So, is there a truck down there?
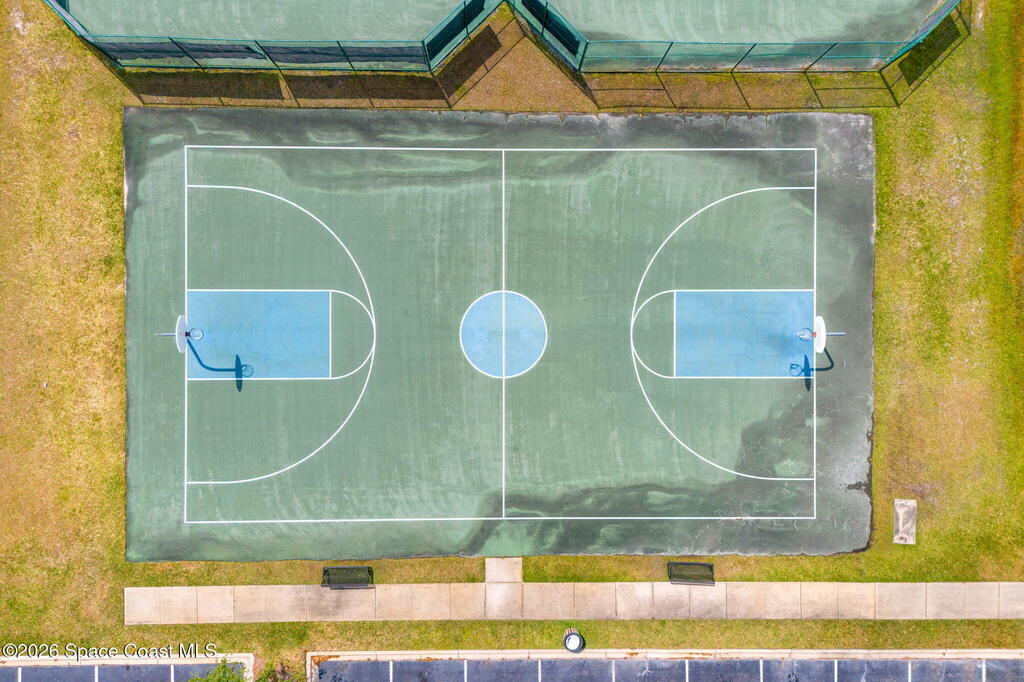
No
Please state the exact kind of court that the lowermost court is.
basketball court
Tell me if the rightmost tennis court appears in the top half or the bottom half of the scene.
top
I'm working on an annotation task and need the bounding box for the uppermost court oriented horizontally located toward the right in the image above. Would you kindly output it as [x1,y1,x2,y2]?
[508,0,948,72]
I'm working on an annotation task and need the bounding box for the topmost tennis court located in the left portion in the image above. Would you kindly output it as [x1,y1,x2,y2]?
[58,0,503,71]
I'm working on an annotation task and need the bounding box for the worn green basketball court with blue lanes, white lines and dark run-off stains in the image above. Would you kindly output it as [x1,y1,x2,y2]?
[123,107,875,562]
